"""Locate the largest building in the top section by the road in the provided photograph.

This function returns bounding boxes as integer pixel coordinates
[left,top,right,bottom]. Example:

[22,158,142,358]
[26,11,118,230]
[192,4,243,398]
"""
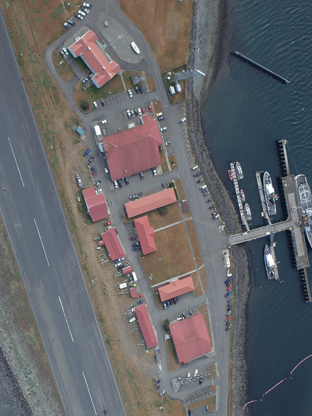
[100,115,162,181]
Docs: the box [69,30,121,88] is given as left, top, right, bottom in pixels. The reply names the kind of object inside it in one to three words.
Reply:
building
